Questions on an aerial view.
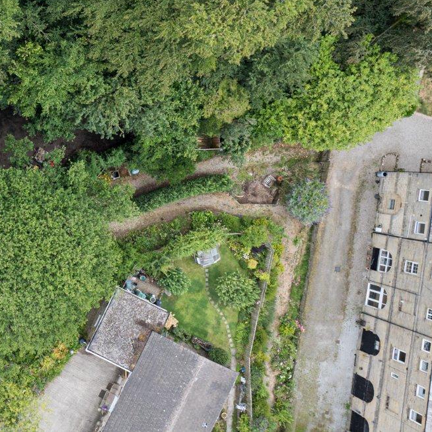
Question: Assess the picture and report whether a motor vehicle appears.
No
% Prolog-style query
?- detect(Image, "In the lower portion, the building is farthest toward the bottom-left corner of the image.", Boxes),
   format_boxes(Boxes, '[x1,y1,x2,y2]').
[85,284,240,432]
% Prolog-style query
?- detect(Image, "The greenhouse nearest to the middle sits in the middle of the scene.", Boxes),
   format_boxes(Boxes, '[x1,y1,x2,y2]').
[191,245,220,268]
